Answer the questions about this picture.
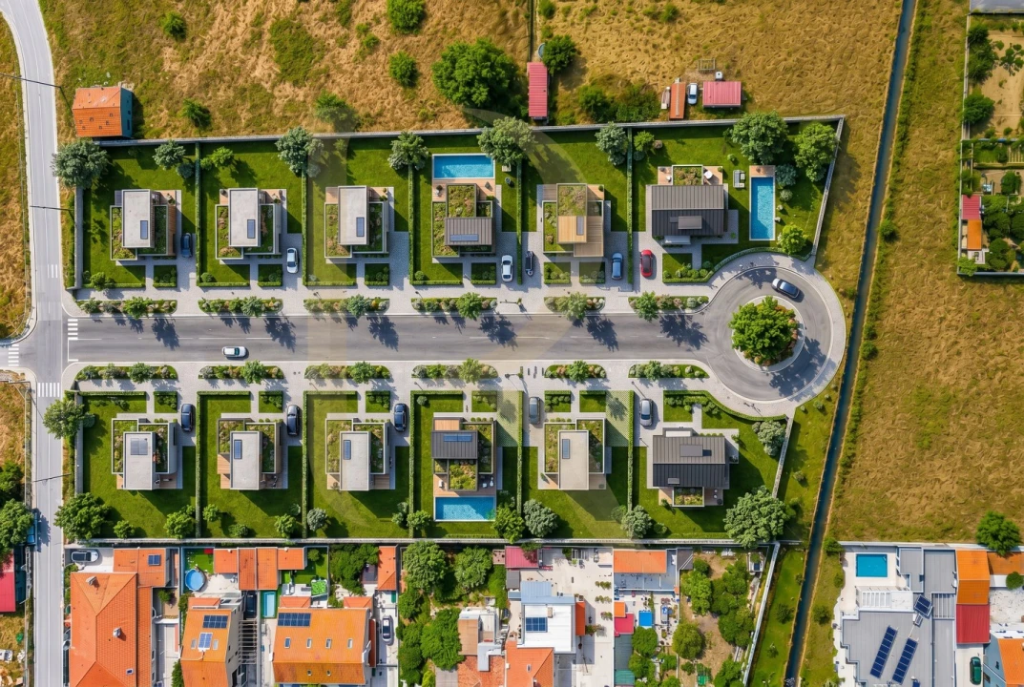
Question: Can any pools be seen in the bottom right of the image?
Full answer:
Yes, looking in the bottom right of the image, one can make out a pool.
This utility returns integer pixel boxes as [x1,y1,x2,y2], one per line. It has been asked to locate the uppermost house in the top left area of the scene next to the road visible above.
[73,86,133,141]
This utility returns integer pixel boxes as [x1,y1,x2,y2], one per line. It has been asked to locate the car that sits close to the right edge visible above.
[969,655,983,684]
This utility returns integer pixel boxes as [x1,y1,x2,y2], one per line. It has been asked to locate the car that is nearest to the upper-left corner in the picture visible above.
[180,232,194,259]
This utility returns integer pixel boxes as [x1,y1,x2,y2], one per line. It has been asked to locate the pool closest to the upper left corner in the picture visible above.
[432,153,495,180]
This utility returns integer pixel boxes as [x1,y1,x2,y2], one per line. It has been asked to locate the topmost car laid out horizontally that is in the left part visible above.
[223,346,247,358]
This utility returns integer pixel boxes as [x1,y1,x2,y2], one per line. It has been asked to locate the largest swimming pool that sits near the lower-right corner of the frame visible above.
[856,553,888,578]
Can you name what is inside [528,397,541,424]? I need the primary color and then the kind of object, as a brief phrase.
gray vehicle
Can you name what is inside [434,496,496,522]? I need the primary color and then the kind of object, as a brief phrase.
blue swimming pool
